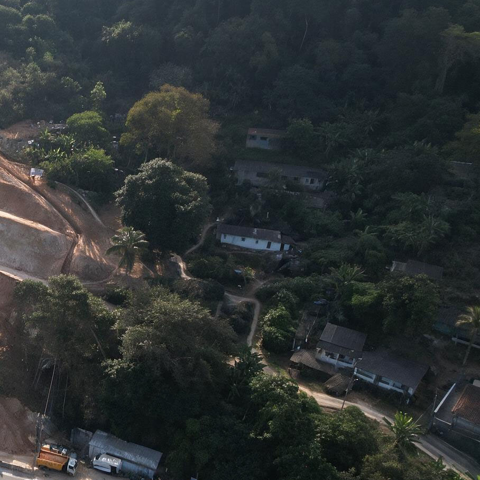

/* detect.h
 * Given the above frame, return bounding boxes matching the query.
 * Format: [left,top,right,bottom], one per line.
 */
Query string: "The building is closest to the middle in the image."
[217,224,287,252]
